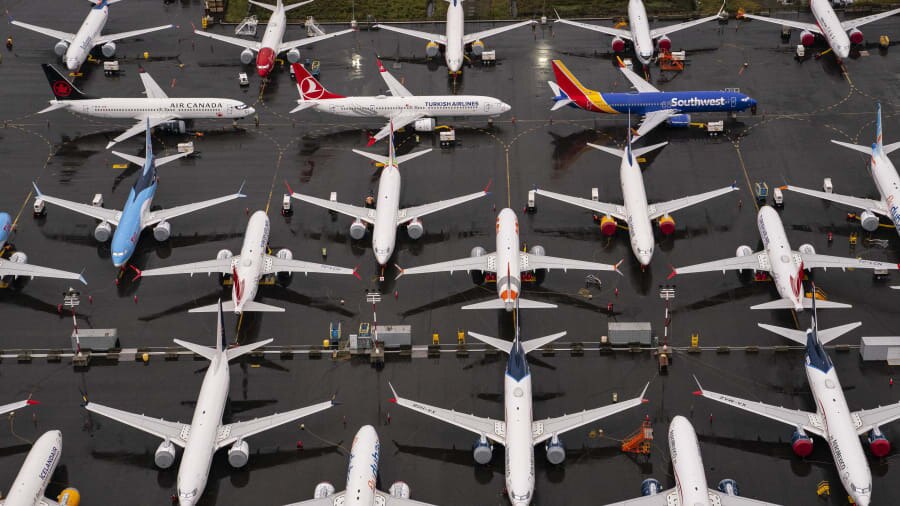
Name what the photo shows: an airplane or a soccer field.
airplane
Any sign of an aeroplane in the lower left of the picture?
Yes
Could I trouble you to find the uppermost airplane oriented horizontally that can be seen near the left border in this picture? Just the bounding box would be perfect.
[9,0,177,74]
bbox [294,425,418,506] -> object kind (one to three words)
airplane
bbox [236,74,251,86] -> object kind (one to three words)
vehicle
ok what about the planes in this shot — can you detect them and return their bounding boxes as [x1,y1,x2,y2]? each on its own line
[294,425,418,506]
[547,53,752,146]
[584,416,850,506]
[670,206,900,313]
[370,0,540,75]
[737,0,900,63]
[0,430,81,506]
[388,291,650,506]
[527,107,739,262]
[553,0,722,69]
[190,0,360,82]
[780,103,900,242]
[694,283,900,502]
[393,206,624,313]
[9,0,177,74]
[0,216,90,286]
[288,55,509,148]
[35,115,246,270]
[131,209,363,315]
[39,58,249,150]
[284,112,494,267]
[80,296,342,506]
